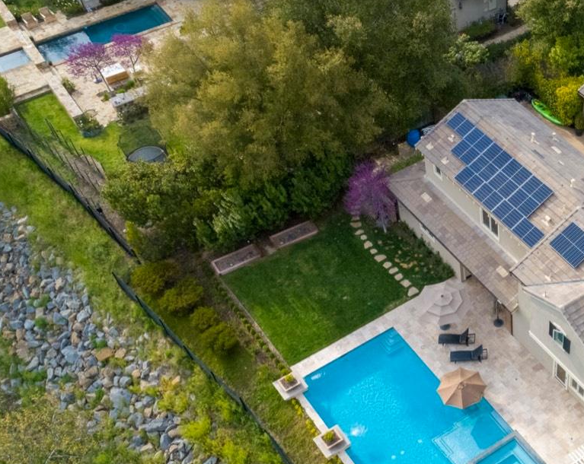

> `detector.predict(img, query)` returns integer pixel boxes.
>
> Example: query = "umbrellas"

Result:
[437,372,489,418]
[494,300,503,326]
[419,289,469,334]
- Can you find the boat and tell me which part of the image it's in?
top right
